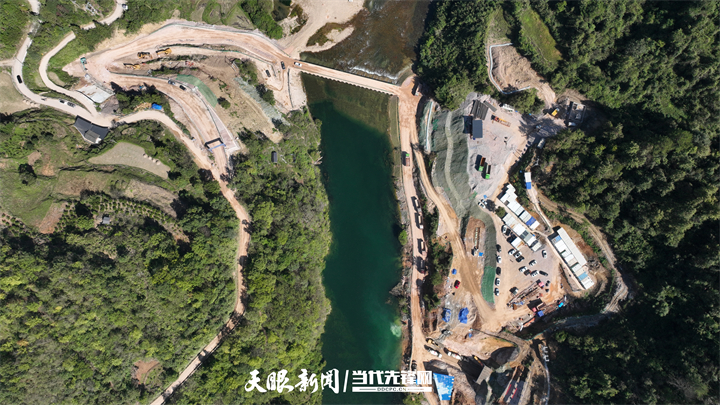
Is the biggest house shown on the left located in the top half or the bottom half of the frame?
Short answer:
top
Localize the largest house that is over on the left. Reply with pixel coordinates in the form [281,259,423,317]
[72,115,108,145]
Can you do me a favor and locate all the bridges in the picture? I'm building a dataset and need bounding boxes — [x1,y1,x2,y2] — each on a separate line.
[291,57,405,98]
